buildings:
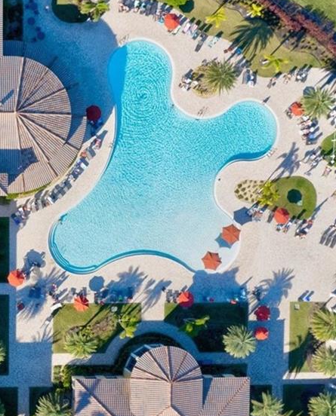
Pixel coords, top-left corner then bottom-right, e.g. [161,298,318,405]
[72,338,250,416]
[0,0,88,194]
